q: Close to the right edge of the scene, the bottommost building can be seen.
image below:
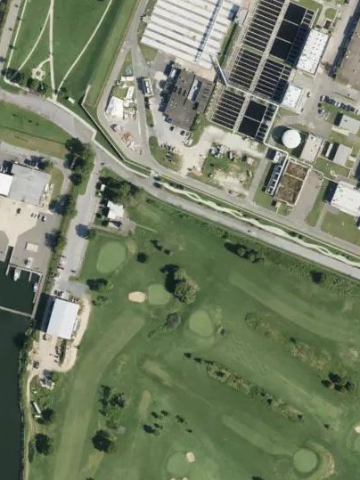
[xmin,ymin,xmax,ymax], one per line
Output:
[332,183,360,216]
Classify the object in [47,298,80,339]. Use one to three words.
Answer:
building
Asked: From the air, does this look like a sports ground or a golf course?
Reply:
golf course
